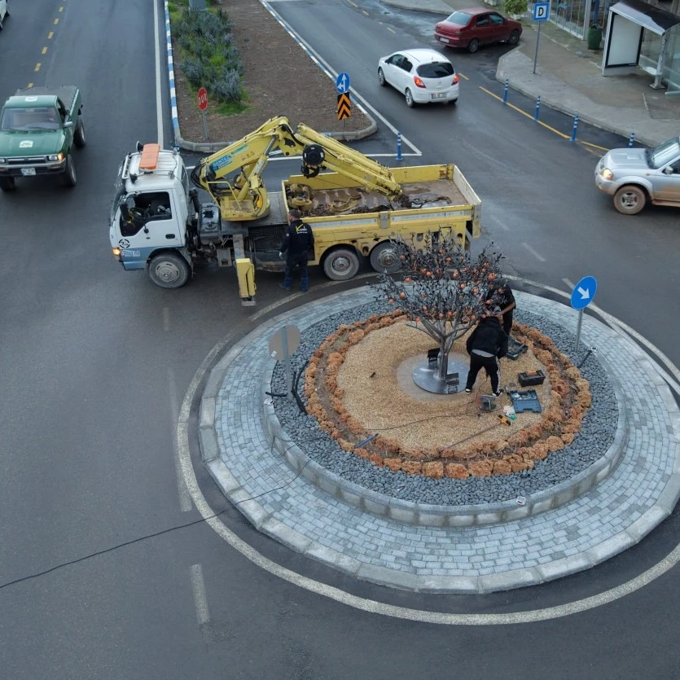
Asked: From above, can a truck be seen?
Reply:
Yes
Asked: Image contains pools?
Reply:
No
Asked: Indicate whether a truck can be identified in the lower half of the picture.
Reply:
No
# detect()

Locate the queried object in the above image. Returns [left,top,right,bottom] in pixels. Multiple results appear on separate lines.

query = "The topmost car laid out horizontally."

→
[430,5,529,54]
